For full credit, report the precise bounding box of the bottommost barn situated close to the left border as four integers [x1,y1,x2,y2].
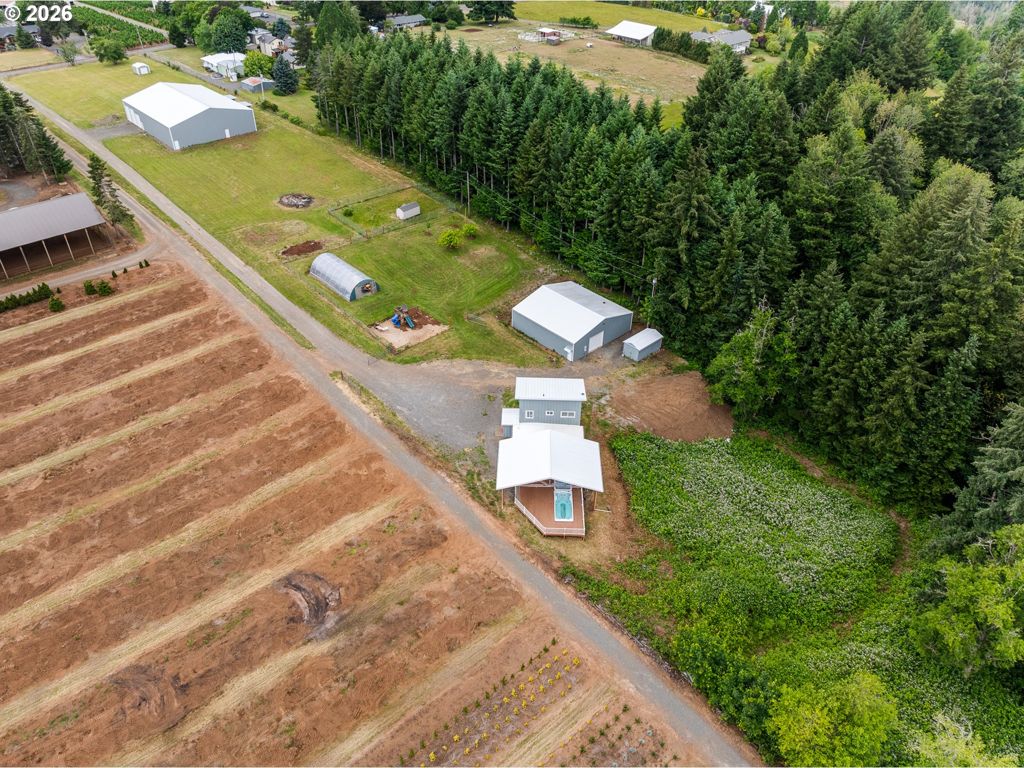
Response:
[0,196,111,279]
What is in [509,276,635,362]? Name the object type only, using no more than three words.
building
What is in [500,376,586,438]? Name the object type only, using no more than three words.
house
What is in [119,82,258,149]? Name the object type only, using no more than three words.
barn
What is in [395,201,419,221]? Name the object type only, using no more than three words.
shed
